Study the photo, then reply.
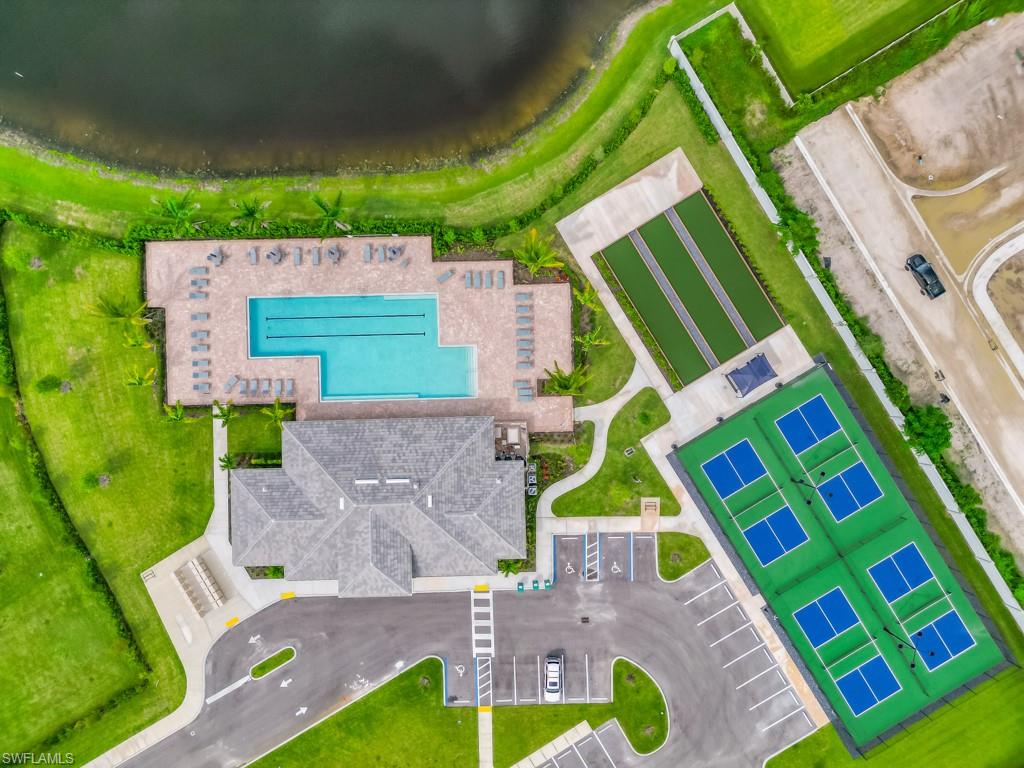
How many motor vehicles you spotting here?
2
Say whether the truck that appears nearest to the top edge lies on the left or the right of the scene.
right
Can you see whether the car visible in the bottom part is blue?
No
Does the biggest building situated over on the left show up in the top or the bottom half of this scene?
bottom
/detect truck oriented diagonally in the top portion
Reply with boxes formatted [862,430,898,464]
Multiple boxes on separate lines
[906,254,948,302]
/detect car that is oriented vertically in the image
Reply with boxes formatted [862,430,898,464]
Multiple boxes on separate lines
[544,655,564,700]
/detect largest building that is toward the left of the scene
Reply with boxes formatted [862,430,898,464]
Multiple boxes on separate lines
[231,416,527,597]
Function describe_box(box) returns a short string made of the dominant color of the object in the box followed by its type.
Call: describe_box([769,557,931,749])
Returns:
green sports court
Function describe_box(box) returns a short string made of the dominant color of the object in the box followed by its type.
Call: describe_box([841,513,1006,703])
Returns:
green sports court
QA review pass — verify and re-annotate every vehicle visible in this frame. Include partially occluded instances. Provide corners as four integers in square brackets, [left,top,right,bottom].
[544,655,564,700]
[906,254,948,302]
